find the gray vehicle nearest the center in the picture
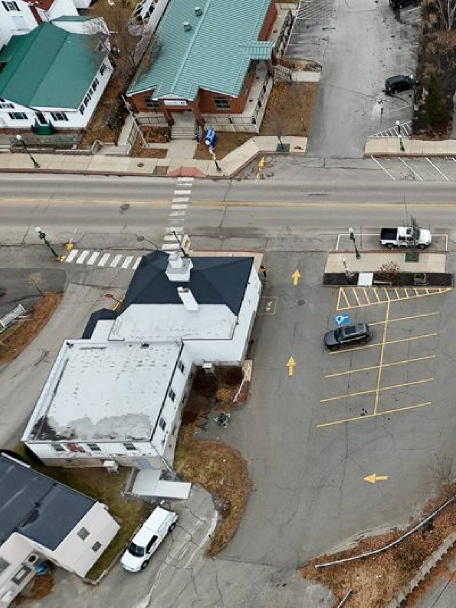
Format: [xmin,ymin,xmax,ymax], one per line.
[323,322,373,353]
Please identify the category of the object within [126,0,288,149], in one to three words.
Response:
building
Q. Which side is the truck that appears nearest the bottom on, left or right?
left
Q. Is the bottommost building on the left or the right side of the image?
left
